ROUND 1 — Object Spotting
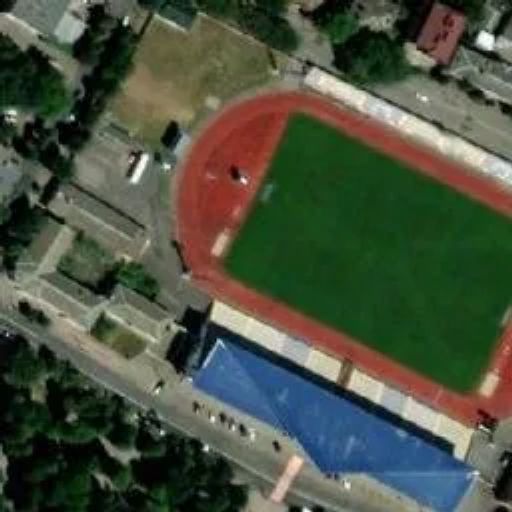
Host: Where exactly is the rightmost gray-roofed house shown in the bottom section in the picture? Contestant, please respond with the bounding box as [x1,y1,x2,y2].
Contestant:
[102,283,170,341]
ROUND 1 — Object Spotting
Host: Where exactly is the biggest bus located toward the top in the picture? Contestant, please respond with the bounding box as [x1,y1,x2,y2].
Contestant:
[130,153,150,184]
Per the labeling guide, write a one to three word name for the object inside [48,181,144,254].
house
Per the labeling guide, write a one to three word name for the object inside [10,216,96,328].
house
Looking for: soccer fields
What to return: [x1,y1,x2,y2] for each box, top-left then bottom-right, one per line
[222,110,512,400]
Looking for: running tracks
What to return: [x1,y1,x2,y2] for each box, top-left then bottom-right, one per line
[172,91,512,428]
